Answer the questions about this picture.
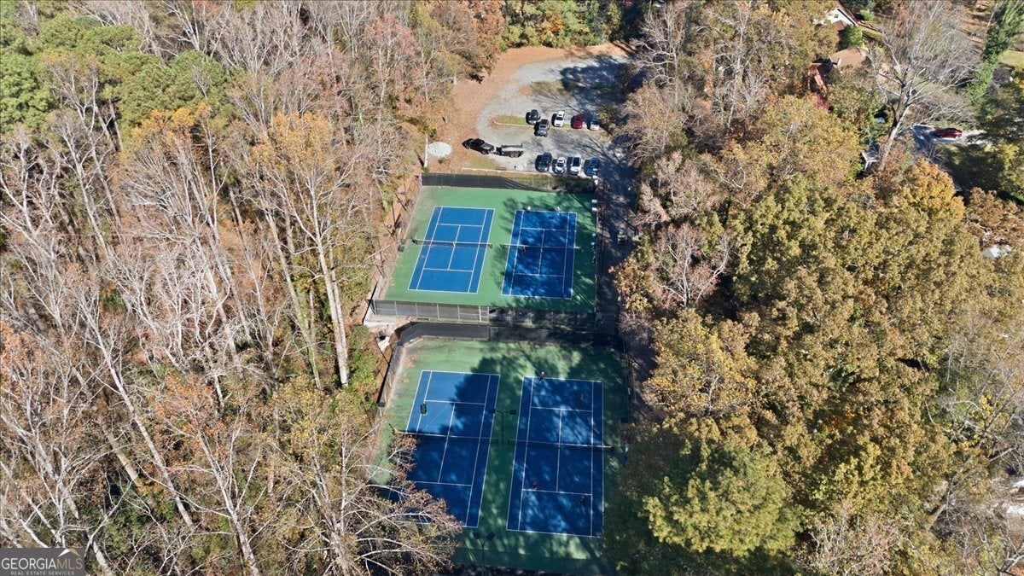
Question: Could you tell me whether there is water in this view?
No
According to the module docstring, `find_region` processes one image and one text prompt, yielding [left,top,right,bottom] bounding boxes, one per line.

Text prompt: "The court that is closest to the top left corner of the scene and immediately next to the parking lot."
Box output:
[379,186,509,320]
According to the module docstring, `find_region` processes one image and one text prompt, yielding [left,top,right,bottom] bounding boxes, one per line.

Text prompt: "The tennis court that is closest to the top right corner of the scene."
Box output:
[484,189,596,325]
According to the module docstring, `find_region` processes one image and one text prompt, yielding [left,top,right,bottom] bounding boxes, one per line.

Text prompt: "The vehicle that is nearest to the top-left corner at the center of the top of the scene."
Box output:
[463,140,492,155]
